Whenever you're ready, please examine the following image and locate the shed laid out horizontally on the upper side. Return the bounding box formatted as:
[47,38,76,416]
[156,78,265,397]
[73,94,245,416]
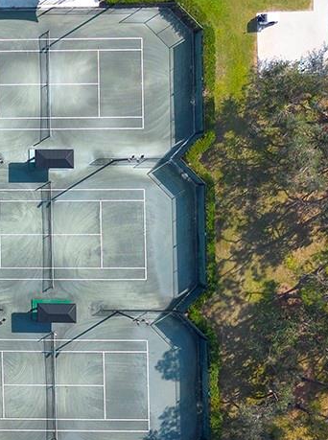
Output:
[30,150,74,168]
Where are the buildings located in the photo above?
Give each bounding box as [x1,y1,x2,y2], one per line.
[32,301,75,323]
[30,150,74,168]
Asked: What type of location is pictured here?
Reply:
sports ground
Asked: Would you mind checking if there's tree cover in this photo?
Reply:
Yes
